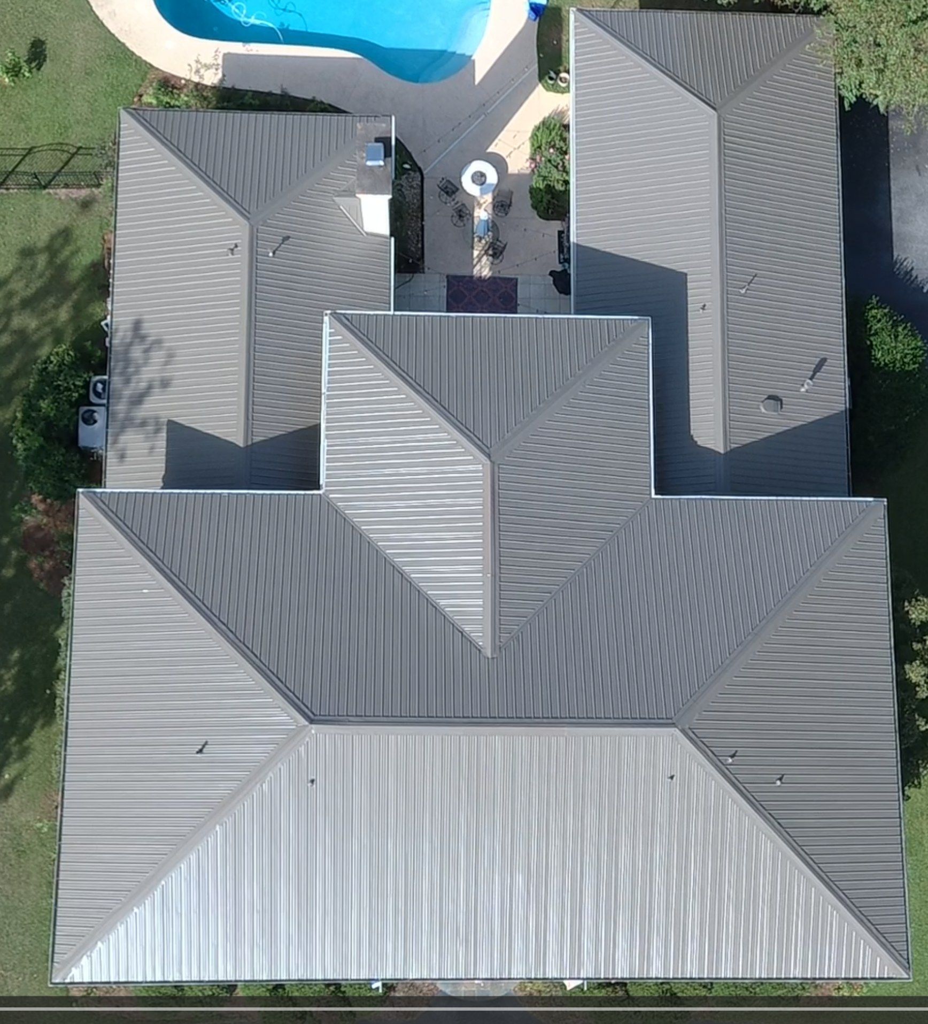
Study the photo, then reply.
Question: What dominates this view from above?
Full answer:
For the most part, this view shows buildings.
